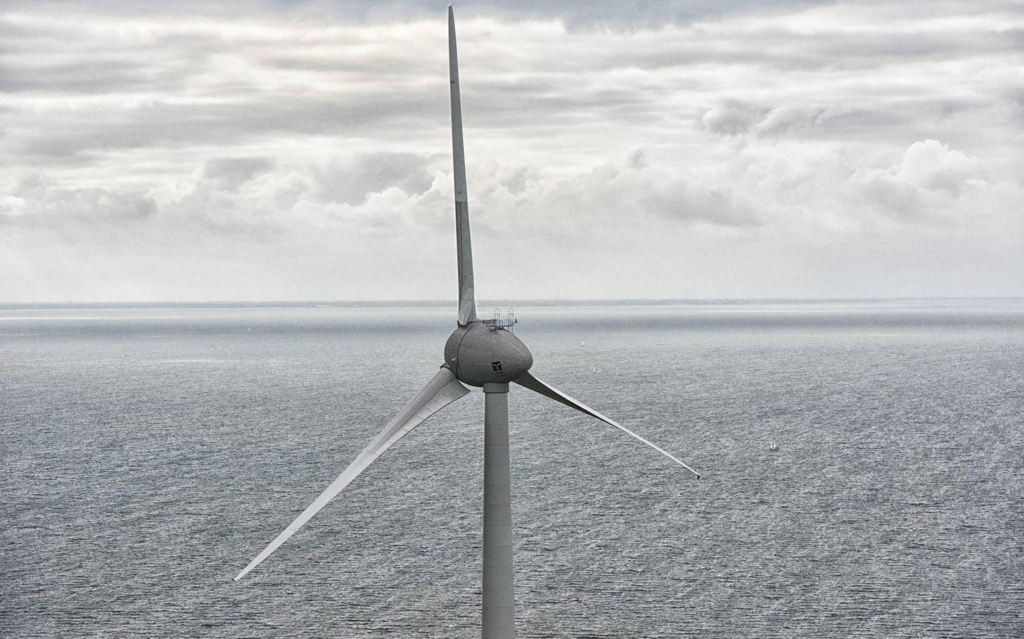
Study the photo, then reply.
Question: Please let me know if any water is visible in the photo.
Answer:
Yes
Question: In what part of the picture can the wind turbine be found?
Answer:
center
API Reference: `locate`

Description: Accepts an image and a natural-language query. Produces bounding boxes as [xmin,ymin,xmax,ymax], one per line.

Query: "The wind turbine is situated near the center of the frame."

[234,5,700,639]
